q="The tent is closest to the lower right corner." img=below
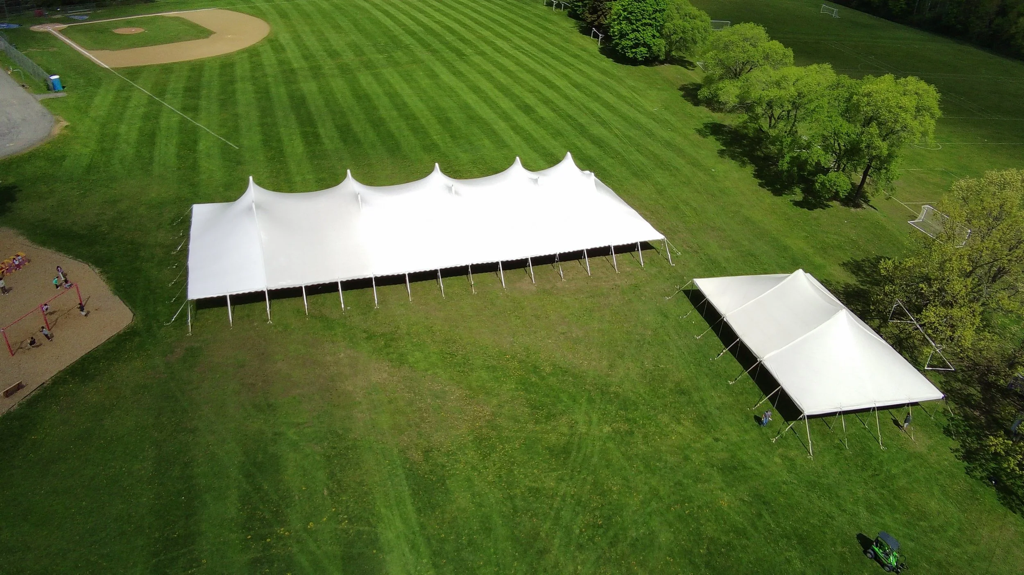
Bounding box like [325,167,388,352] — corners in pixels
[664,270,959,461]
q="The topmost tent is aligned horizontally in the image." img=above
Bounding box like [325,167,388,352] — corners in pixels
[162,149,680,336]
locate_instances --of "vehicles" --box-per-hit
[864,528,918,575]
